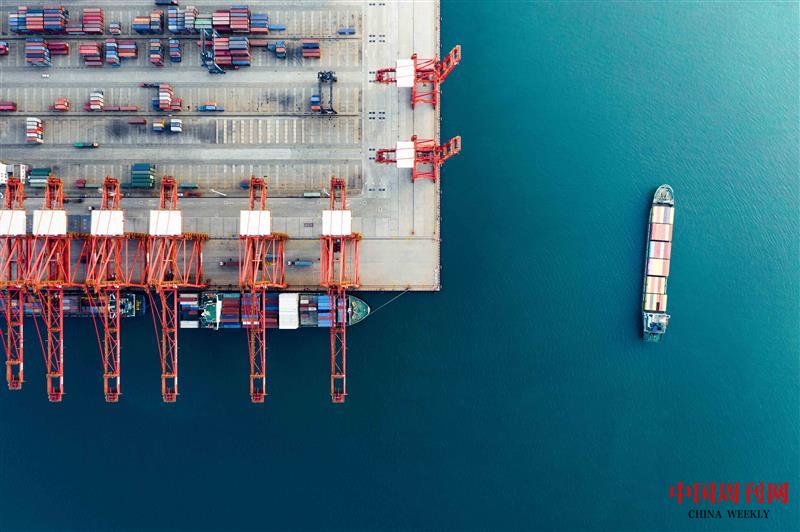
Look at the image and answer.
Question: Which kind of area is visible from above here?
port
